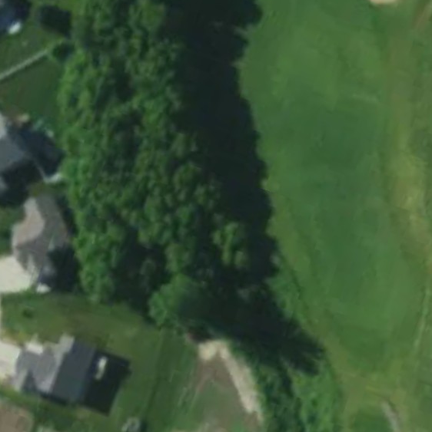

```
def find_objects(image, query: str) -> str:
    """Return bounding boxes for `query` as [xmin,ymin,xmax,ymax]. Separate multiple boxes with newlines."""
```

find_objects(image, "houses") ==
[6,193,70,282]
[10,332,97,408]
[0,115,25,197]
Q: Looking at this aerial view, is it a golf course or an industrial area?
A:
golf course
